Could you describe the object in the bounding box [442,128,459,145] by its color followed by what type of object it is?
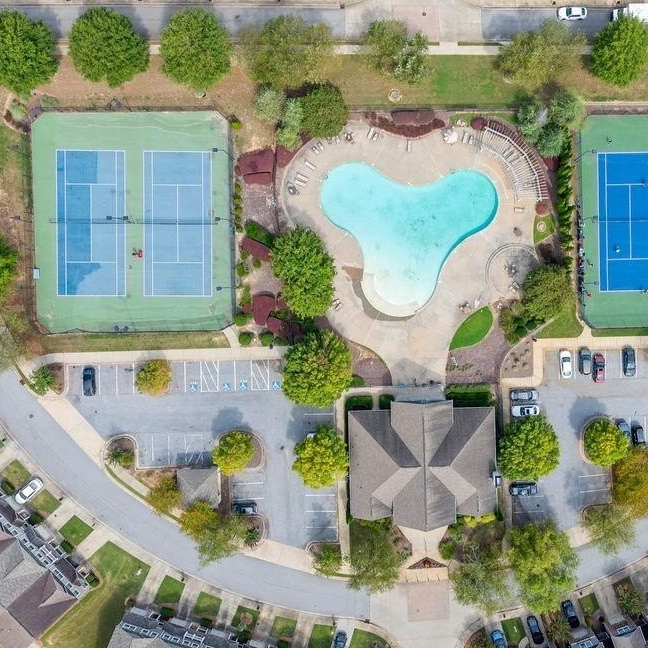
white umbrella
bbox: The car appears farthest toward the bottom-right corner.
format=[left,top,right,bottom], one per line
[559,596,580,626]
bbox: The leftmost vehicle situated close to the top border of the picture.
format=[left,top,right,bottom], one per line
[556,6,587,22]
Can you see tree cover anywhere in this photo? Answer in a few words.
Yes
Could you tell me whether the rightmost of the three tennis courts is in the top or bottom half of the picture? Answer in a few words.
top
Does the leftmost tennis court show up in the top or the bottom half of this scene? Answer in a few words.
top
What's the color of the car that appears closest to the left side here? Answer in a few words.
white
